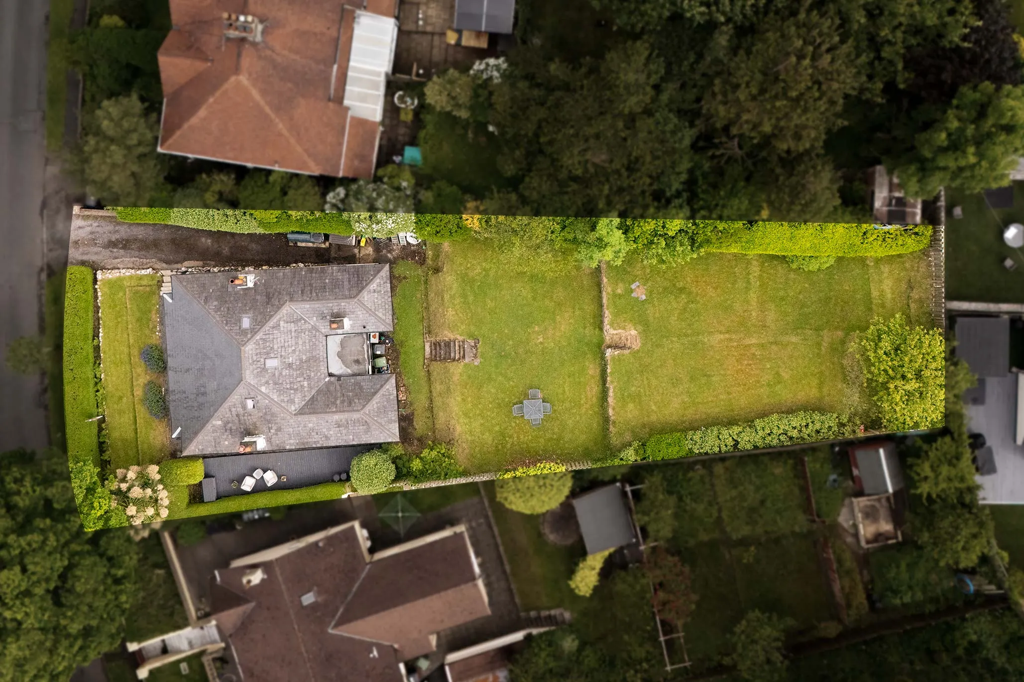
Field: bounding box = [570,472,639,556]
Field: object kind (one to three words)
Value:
shed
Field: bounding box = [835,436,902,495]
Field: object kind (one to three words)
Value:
shed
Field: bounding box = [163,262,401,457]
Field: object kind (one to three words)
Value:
house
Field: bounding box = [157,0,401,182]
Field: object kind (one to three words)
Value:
house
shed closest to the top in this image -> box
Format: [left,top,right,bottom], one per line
[454,0,515,48]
